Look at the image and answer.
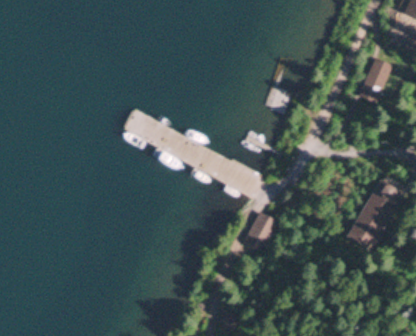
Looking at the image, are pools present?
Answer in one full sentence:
No, the picture doesn't show any pool.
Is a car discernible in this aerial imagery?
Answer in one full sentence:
No, I find no car anywhere in the image.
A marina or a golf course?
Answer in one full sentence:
It's a marina.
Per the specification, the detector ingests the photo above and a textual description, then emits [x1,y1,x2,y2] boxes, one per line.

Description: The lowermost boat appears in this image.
[222,184,240,197]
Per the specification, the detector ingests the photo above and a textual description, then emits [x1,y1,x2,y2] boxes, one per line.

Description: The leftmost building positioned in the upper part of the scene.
[366,58,393,92]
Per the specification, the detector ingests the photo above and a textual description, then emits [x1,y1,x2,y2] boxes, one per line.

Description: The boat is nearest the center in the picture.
[192,168,212,182]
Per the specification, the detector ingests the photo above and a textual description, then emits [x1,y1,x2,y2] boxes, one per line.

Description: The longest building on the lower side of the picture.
[350,183,400,246]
